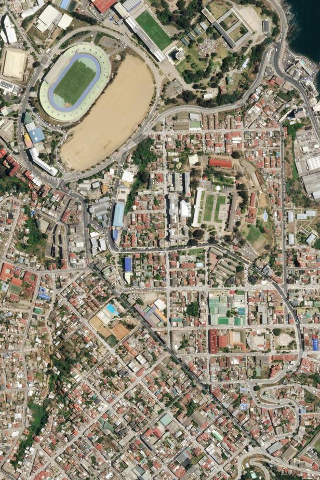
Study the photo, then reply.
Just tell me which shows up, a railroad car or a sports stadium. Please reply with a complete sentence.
Of the two, only a sports stadium appears.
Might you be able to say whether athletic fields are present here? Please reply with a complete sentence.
Yes, an athletic field can be made out from above.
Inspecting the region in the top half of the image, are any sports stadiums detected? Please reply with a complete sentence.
Yes, a sports stadium can be seen in the top half of the image.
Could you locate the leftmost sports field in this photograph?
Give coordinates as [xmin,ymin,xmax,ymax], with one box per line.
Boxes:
[54,59,96,105]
